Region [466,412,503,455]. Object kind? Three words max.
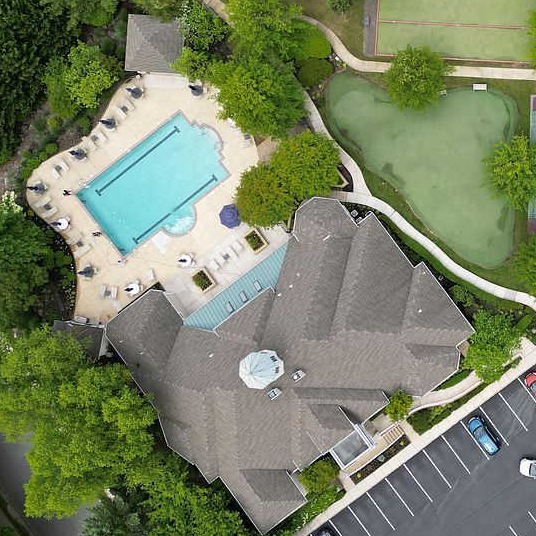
car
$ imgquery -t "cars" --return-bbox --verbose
[518,455,536,479]
[523,370,536,397]
[466,412,503,455]
[313,527,335,536]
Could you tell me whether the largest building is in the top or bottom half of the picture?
bottom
